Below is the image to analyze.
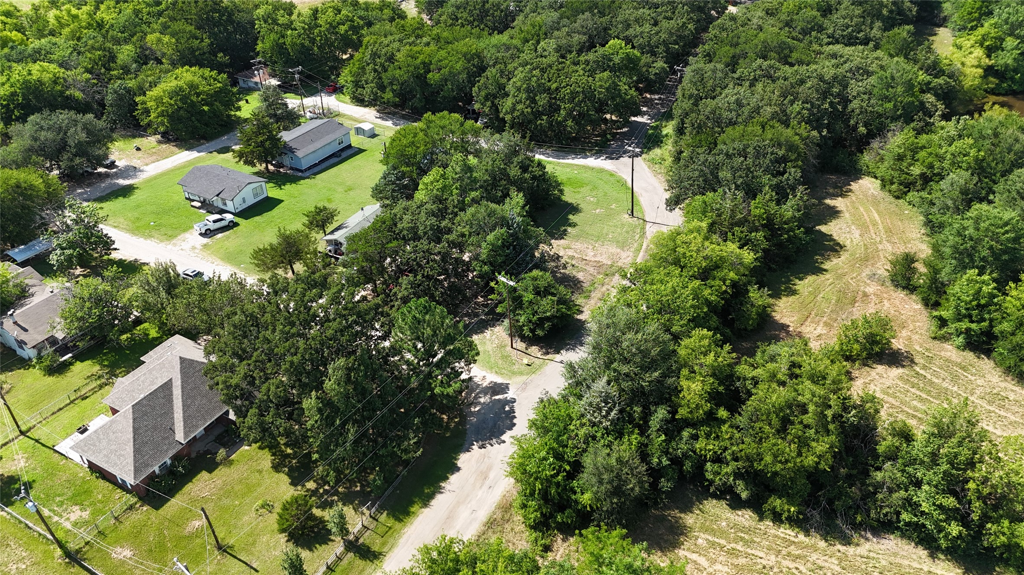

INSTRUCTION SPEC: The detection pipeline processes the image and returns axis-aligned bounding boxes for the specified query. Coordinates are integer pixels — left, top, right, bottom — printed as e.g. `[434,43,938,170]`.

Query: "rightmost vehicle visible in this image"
[471,116,492,128]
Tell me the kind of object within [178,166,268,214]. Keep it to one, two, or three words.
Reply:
house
